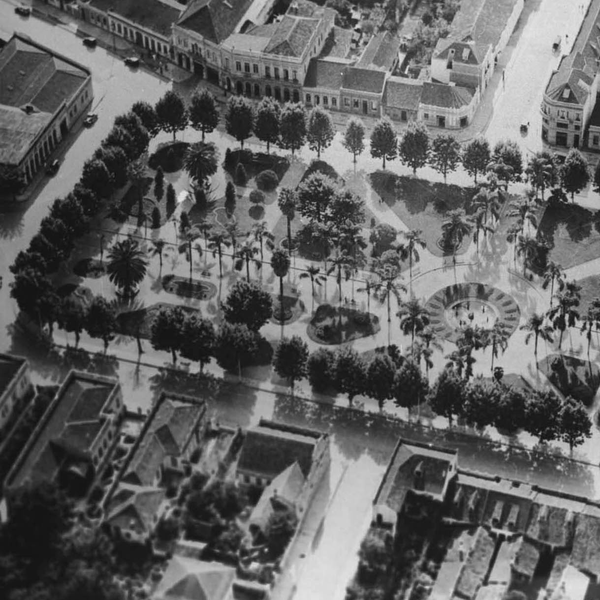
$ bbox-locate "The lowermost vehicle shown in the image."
[46,157,61,172]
